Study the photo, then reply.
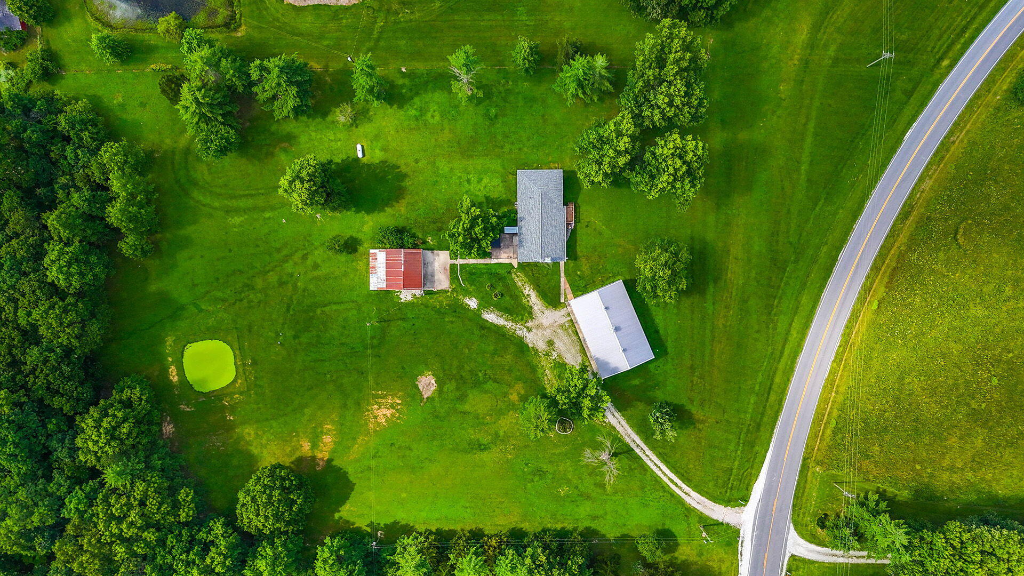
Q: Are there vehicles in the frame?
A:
No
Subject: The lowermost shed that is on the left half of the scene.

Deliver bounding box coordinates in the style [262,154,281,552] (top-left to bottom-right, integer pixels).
[370,249,423,290]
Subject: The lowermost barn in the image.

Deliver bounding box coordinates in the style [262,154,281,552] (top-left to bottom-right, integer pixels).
[569,280,654,378]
